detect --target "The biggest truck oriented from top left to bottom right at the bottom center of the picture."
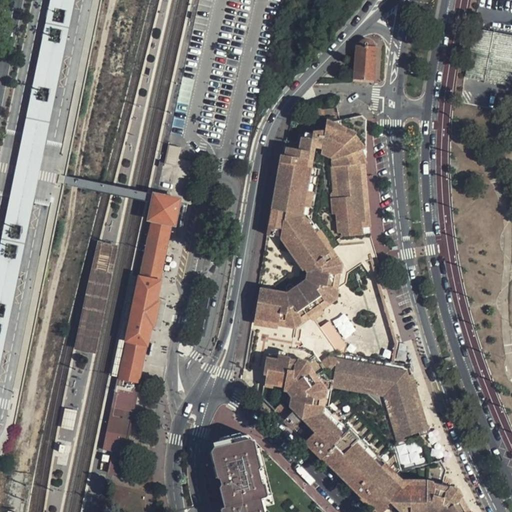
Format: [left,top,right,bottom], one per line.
[293,464,316,486]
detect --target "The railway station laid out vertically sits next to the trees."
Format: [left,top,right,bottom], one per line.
[112,192,182,384]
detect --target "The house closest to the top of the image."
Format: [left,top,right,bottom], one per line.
[352,36,377,84]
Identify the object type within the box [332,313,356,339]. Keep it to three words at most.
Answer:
tent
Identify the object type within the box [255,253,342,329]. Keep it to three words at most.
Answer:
building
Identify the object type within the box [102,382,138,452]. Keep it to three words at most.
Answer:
building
